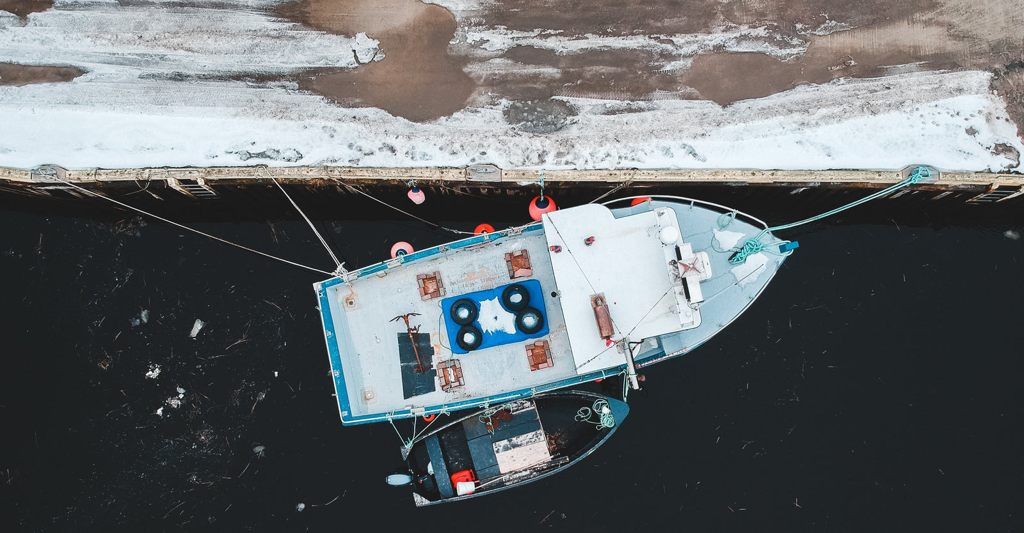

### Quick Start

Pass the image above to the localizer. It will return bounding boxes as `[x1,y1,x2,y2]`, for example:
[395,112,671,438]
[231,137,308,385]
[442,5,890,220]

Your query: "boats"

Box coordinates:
[311,194,799,424]
[388,390,630,507]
